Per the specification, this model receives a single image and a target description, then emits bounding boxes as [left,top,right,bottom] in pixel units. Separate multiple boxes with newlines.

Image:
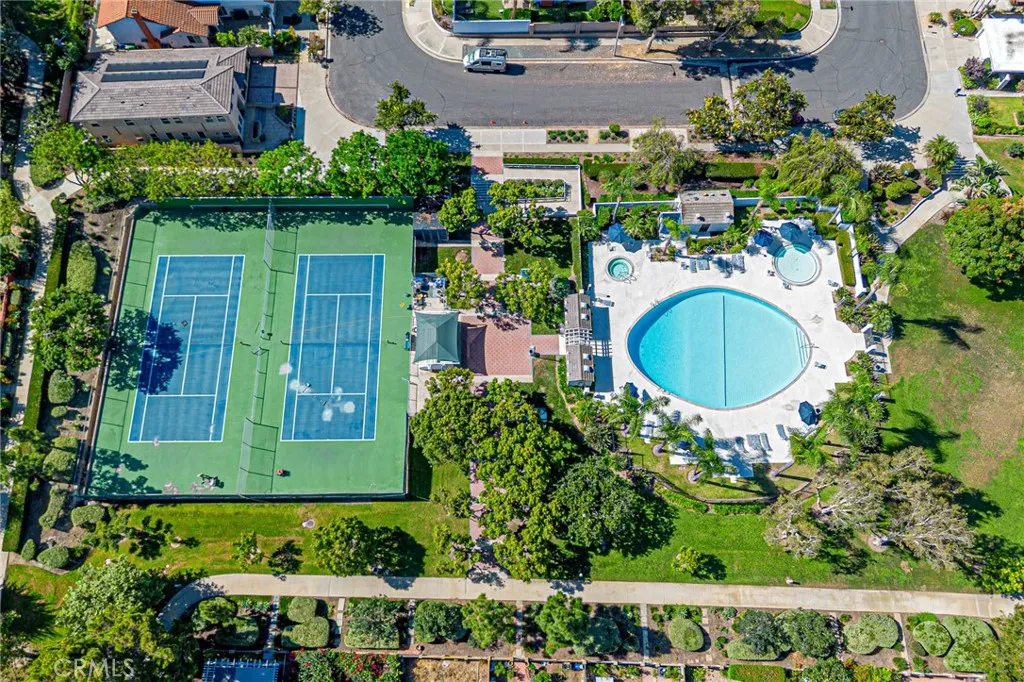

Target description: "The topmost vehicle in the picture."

[462,48,506,73]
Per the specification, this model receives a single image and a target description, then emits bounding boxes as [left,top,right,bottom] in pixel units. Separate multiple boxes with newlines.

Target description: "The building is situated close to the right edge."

[970,18,1024,90]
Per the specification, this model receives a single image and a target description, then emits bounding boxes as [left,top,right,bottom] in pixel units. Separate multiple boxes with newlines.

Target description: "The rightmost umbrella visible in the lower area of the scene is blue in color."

[794,403,819,424]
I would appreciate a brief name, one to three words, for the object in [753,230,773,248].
umbrella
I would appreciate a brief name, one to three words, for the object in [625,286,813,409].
swimming pool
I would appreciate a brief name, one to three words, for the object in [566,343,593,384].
building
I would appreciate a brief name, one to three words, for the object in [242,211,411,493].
tennis court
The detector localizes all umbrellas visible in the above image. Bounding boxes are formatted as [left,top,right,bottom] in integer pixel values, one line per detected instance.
[619,382,638,401]
[778,223,801,243]
[606,224,629,244]
[753,230,773,248]
[794,403,819,424]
